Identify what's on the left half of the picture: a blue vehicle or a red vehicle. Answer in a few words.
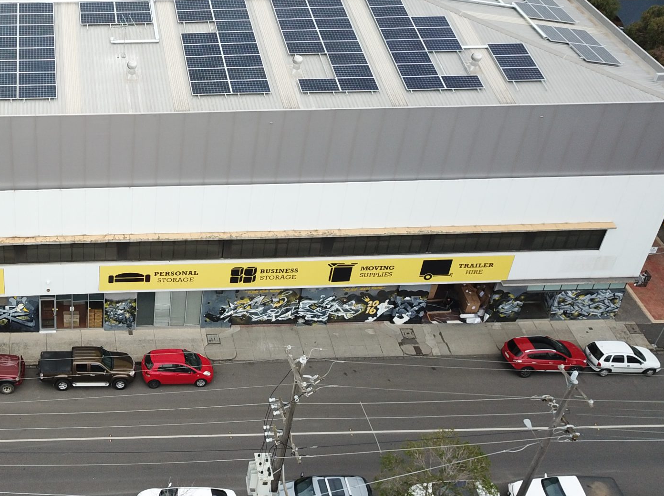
red vehicle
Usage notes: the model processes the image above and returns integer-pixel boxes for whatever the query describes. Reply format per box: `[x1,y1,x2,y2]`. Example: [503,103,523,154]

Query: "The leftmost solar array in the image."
[0,5,56,104]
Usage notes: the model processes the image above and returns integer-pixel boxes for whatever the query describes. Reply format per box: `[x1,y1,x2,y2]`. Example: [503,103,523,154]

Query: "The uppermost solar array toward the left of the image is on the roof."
[80,0,151,27]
